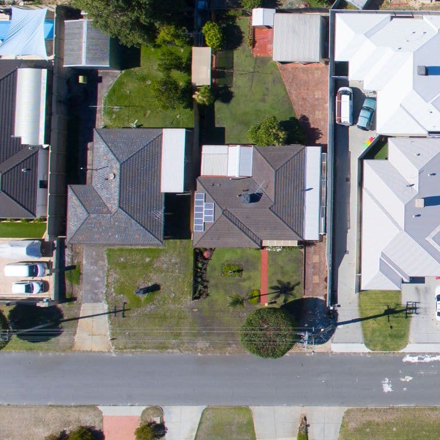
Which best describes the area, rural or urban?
urban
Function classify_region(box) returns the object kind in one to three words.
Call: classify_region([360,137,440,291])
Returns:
house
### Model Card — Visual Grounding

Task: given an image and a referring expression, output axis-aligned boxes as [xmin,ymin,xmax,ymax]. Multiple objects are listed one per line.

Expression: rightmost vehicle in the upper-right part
[357,96,376,131]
